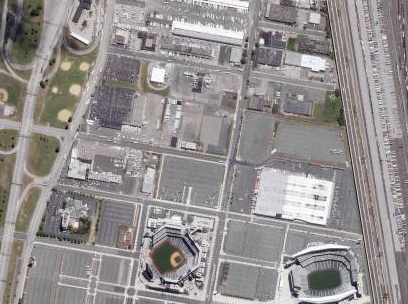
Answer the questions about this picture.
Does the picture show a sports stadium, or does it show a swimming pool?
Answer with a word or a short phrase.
sports stadium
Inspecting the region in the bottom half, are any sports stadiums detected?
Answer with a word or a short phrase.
Yes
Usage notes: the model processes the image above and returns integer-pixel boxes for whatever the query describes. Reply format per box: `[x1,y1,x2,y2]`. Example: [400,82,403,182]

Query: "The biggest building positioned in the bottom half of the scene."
[253,168,335,225]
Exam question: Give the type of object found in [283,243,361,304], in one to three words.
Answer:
stadium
